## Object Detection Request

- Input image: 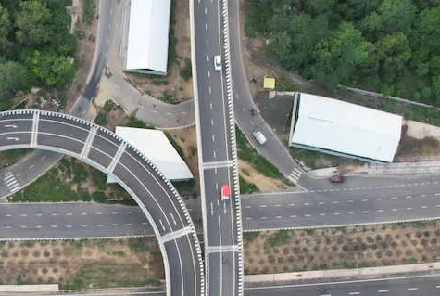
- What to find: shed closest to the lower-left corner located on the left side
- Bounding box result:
[104,126,194,183]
